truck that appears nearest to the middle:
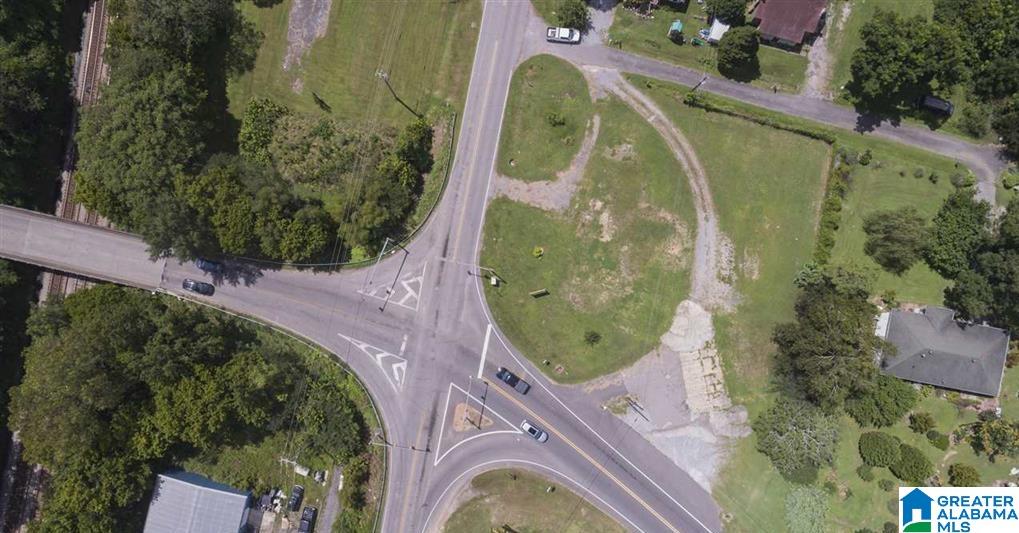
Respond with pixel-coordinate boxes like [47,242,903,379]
[497,366,531,395]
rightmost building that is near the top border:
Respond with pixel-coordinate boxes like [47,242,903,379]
[757,0,828,57]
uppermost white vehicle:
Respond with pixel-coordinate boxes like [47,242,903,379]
[545,29,582,45]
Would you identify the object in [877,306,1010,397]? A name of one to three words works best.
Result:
house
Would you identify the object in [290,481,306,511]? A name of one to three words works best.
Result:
car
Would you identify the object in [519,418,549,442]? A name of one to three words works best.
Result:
car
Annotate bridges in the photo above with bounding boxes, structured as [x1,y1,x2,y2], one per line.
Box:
[0,203,165,293]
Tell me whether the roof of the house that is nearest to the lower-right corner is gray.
Yes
